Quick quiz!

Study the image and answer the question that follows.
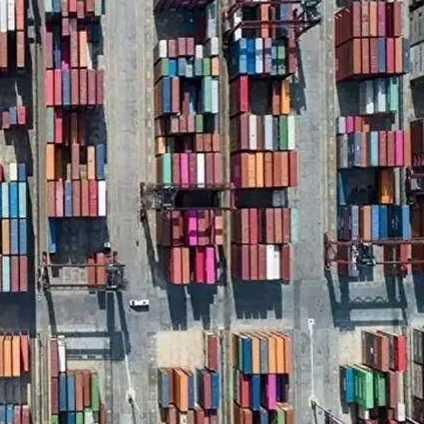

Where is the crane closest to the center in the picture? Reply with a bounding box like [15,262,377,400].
[140,179,240,215]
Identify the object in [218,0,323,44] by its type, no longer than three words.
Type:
container crane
